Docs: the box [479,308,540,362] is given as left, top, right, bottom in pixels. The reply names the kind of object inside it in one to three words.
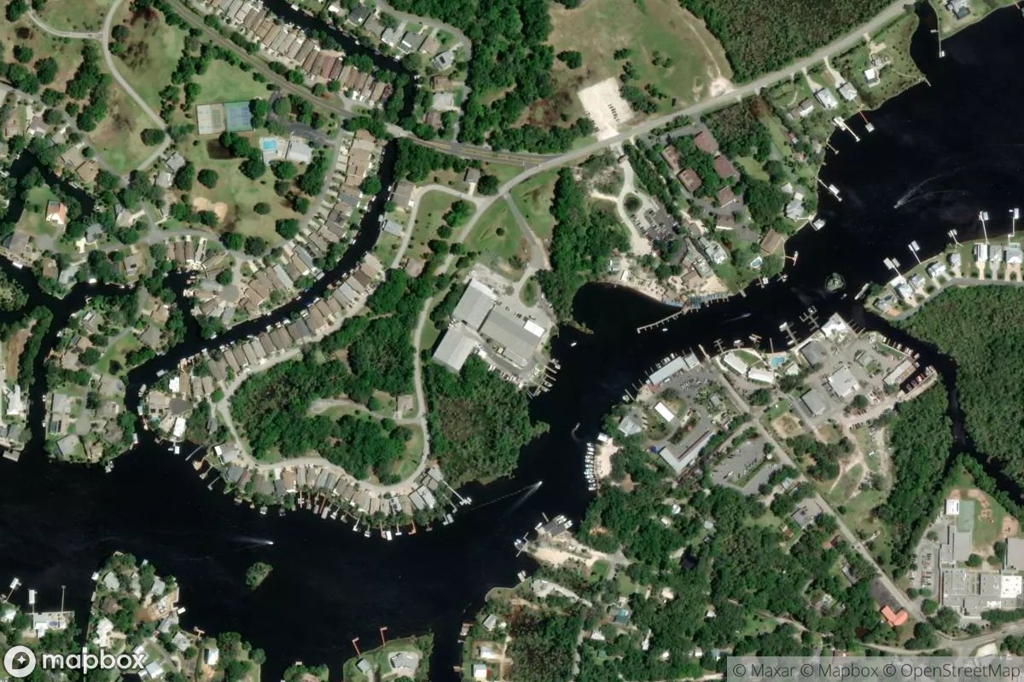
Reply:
shed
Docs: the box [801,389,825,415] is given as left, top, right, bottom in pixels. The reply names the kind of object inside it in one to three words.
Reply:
building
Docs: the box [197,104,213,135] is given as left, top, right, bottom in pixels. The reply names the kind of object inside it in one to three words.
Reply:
sports court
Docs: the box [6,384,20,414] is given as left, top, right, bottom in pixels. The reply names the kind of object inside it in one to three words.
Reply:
house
